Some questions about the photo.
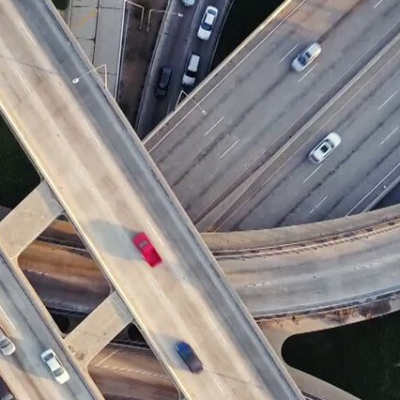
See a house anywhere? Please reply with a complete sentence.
No, no house is visible in the view.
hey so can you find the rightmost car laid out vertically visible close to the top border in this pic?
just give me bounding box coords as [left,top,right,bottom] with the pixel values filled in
[199,5,216,37]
